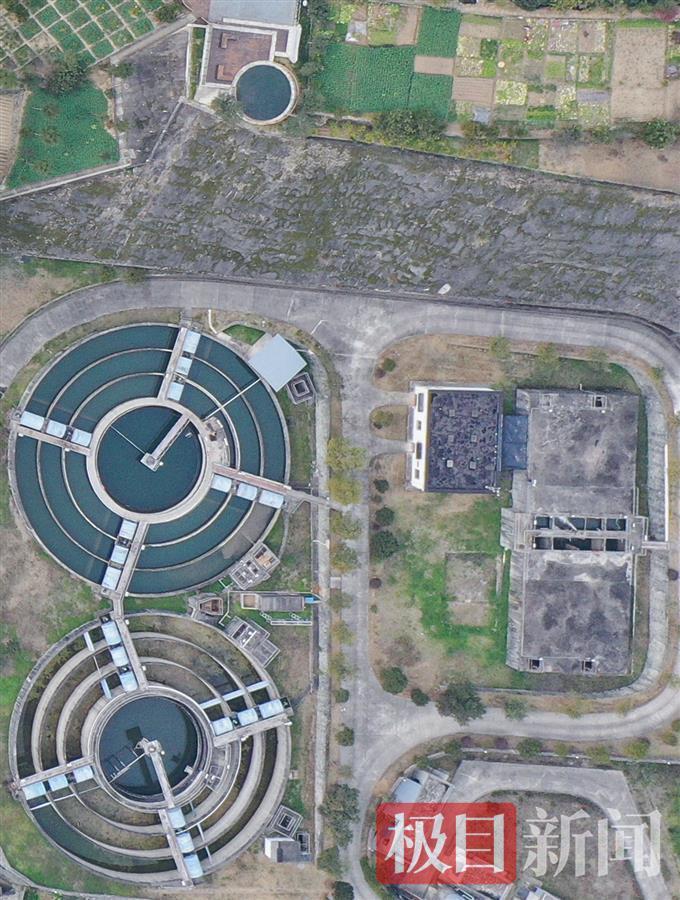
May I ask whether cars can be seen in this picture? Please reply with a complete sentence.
No, there is no car in the image.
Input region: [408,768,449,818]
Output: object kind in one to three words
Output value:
house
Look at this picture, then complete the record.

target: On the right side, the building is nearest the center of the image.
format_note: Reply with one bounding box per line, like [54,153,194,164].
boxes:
[405,381,503,496]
